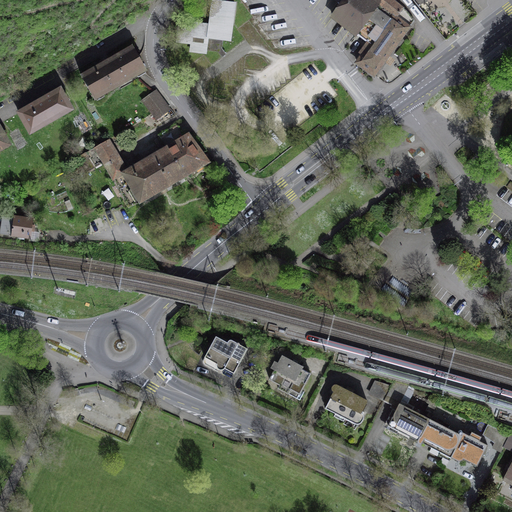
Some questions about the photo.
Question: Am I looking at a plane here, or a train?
train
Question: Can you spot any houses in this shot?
Yes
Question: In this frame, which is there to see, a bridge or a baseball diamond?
bridge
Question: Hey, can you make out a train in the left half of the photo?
No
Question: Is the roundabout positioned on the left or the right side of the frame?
left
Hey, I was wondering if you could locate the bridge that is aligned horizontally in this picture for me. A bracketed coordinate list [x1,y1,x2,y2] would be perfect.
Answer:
[136,266,226,308]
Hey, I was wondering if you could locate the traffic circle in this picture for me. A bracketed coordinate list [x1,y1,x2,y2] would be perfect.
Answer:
[84,308,156,381]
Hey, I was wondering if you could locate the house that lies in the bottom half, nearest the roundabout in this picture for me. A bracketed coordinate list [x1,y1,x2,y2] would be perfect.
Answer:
[204,336,248,377]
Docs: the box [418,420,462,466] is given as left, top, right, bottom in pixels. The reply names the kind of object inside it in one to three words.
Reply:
house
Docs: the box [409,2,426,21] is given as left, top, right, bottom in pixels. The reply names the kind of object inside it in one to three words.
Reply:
vehicle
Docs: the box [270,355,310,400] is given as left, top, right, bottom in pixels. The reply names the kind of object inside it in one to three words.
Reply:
house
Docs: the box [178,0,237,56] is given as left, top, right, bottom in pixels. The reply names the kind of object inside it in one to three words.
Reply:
building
